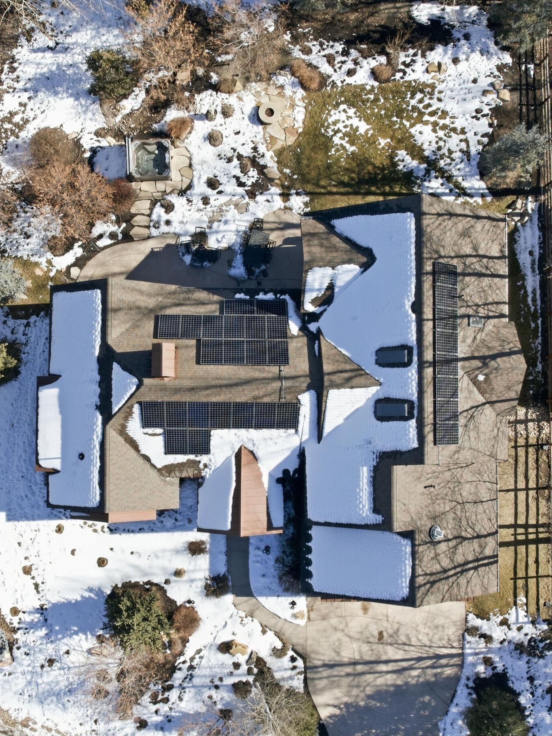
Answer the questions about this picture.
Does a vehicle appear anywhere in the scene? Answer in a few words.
No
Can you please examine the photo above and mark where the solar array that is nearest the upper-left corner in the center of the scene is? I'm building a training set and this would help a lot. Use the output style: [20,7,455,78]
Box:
[159,299,288,365]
